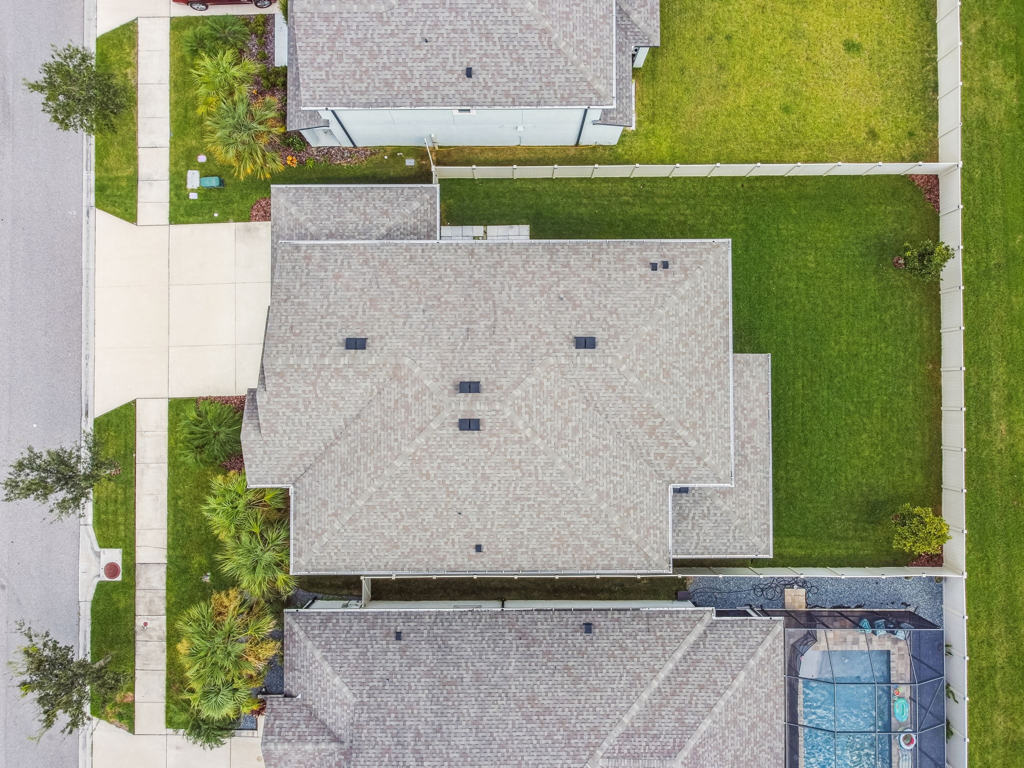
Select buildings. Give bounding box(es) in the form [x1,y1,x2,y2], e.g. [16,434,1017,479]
[261,598,786,768]
[287,0,663,151]
[241,183,774,577]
